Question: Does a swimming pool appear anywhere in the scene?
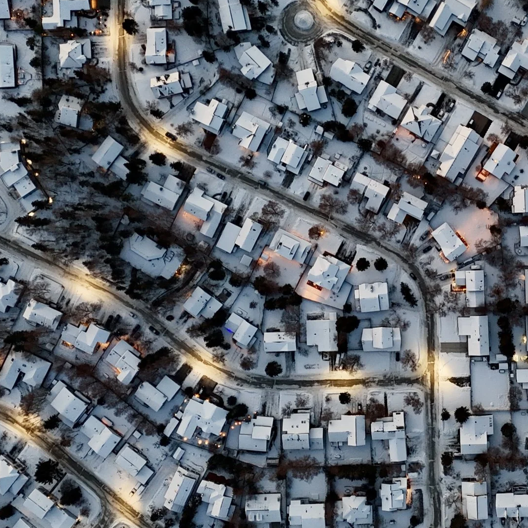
No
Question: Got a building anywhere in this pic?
Yes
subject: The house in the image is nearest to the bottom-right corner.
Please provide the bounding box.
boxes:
[497,491,528,514]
